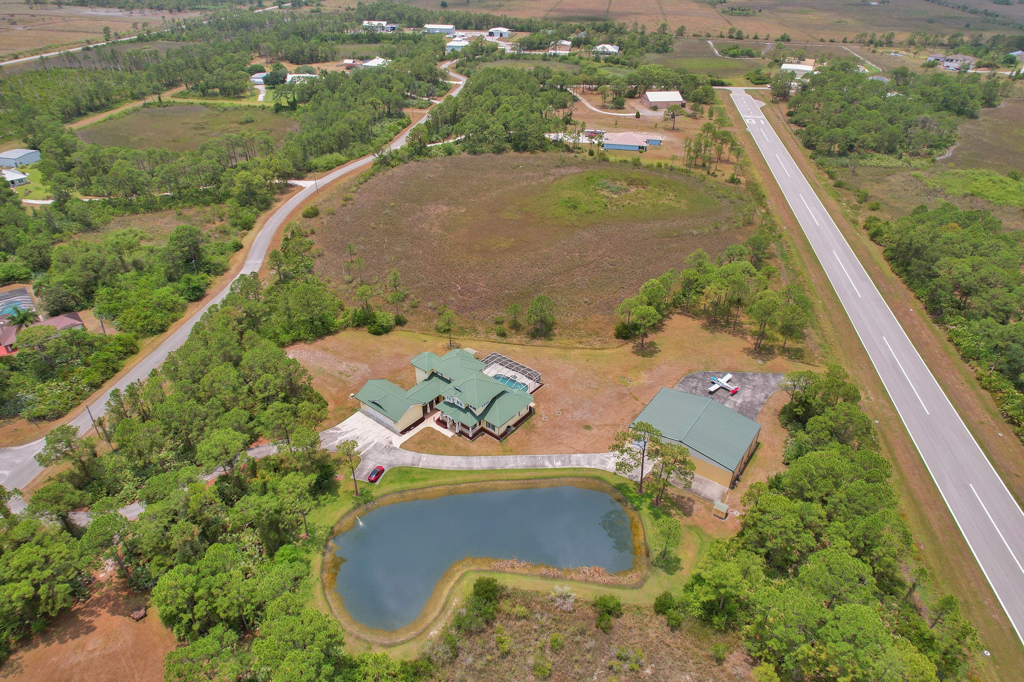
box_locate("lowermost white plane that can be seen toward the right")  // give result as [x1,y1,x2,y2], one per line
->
[708,374,740,393]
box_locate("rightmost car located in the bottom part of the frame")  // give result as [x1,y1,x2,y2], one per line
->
[368,465,384,482]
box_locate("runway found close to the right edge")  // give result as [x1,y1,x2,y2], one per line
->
[731,93,1024,649]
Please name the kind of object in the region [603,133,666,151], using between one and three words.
house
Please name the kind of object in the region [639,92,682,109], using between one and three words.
barn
